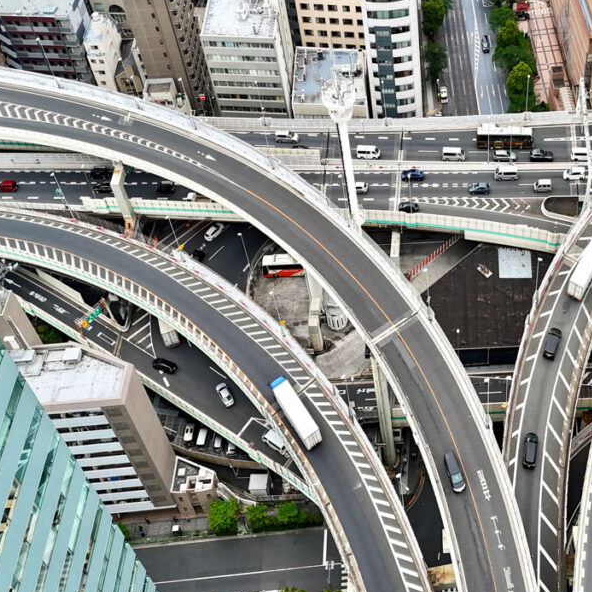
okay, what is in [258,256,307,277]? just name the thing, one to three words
bus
